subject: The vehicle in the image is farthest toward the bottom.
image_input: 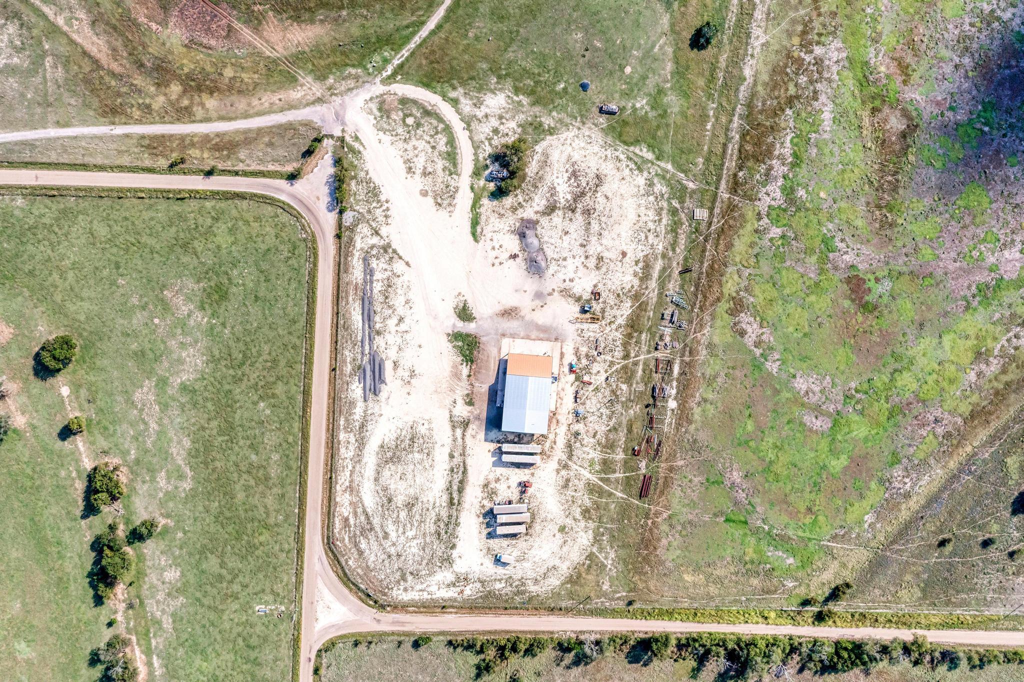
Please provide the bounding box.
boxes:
[497,554,516,566]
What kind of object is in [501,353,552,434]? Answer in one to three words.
shed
